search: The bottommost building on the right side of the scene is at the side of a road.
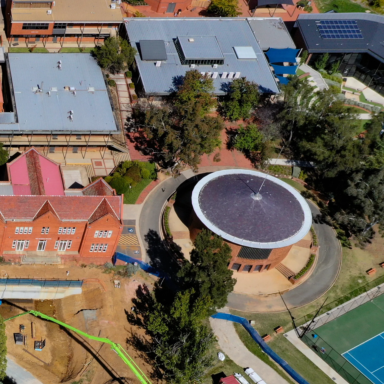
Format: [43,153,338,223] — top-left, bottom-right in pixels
[188,152,313,274]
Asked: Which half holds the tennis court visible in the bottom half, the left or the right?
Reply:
right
